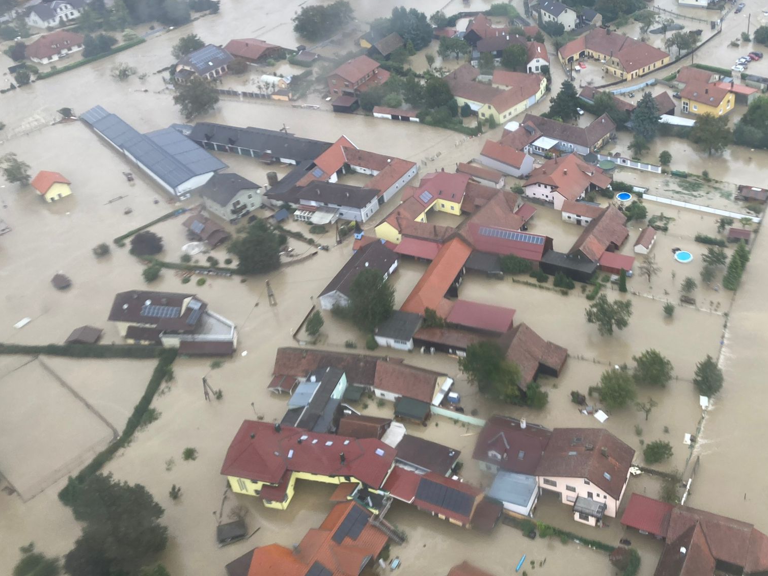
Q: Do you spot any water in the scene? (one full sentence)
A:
Yes, the picture does contain water.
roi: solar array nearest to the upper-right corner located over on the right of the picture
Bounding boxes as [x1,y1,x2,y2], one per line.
[479,227,545,245]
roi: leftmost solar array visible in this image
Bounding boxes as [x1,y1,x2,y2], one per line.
[141,306,181,318]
